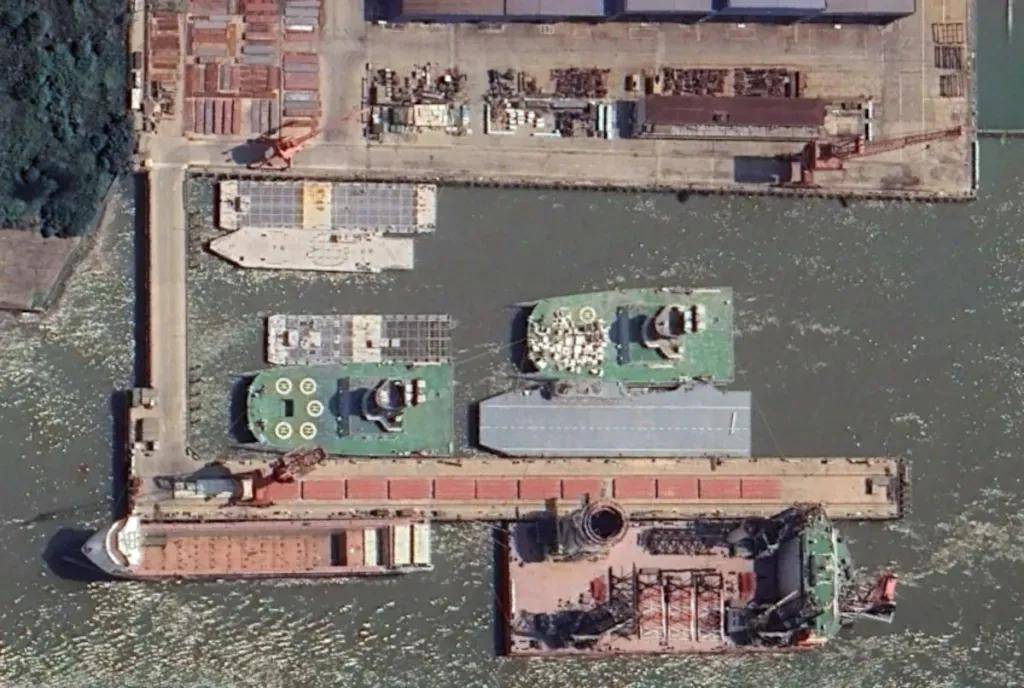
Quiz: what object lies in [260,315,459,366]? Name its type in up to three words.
ship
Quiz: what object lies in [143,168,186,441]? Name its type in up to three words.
pier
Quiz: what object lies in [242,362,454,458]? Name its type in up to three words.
ship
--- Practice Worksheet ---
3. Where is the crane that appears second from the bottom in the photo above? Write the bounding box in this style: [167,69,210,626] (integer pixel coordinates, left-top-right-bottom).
[640,526,785,555]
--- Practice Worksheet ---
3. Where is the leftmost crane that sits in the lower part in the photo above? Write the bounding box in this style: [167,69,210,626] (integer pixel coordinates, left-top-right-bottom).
[224,449,328,509]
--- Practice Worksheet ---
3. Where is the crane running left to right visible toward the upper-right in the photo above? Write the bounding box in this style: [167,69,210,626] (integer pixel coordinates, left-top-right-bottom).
[774,129,962,183]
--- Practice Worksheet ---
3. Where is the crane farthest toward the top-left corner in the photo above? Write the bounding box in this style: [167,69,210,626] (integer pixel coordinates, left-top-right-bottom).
[256,126,333,171]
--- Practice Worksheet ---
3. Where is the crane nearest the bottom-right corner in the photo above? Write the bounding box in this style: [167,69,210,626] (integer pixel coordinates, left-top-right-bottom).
[729,590,801,640]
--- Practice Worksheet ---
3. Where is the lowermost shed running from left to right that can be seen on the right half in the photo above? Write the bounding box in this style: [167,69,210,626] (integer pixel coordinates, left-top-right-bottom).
[634,96,823,141]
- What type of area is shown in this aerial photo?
port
